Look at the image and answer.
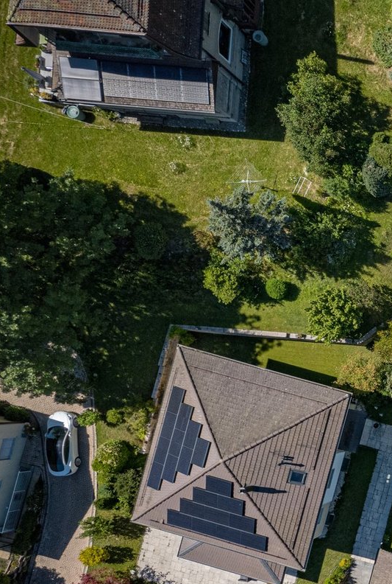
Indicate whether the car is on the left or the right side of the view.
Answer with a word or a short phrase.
left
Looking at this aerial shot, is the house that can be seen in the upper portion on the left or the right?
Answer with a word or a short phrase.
left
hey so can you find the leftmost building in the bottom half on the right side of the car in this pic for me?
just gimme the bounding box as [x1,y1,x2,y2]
[130,344,371,584]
